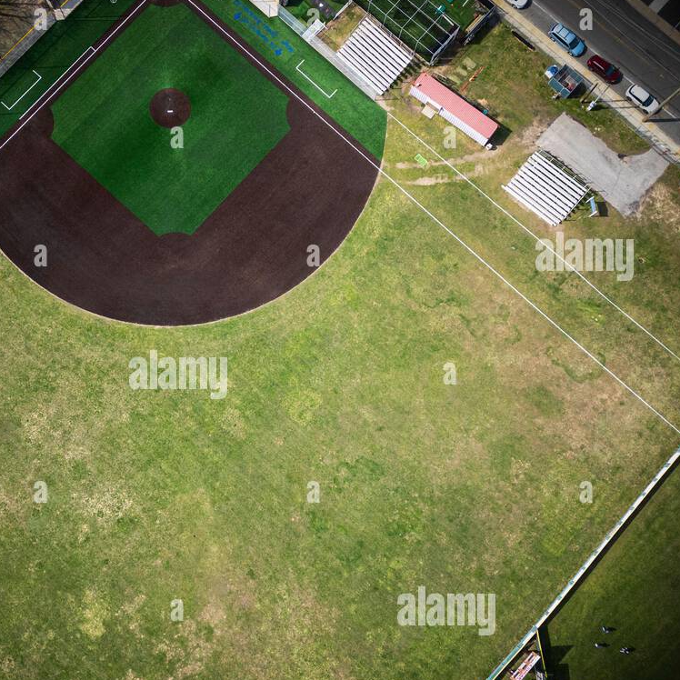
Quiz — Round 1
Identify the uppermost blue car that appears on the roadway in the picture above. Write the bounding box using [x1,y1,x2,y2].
[548,24,584,57]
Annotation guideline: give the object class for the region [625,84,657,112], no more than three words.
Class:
car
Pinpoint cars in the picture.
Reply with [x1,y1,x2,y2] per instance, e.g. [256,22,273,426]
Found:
[507,0,528,9]
[548,24,584,57]
[584,53,621,85]
[625,84,657,112]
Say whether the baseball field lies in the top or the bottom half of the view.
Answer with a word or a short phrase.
top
